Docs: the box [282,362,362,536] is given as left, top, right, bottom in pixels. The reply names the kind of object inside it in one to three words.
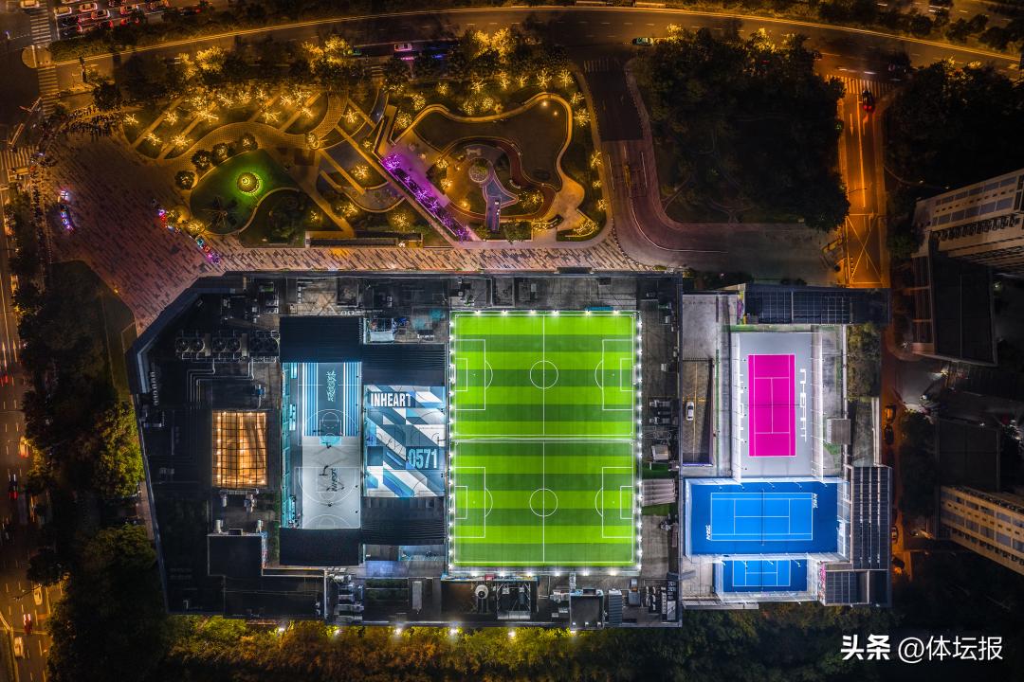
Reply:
basketball court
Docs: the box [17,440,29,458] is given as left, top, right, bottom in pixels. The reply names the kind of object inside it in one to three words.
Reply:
vehicle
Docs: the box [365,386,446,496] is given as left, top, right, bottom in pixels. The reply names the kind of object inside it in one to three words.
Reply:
basketball court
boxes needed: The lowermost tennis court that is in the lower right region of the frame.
[721,555,808,594]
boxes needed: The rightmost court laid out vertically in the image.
[740,332,813,479]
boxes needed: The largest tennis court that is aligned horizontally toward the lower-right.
[690,483,839,556]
